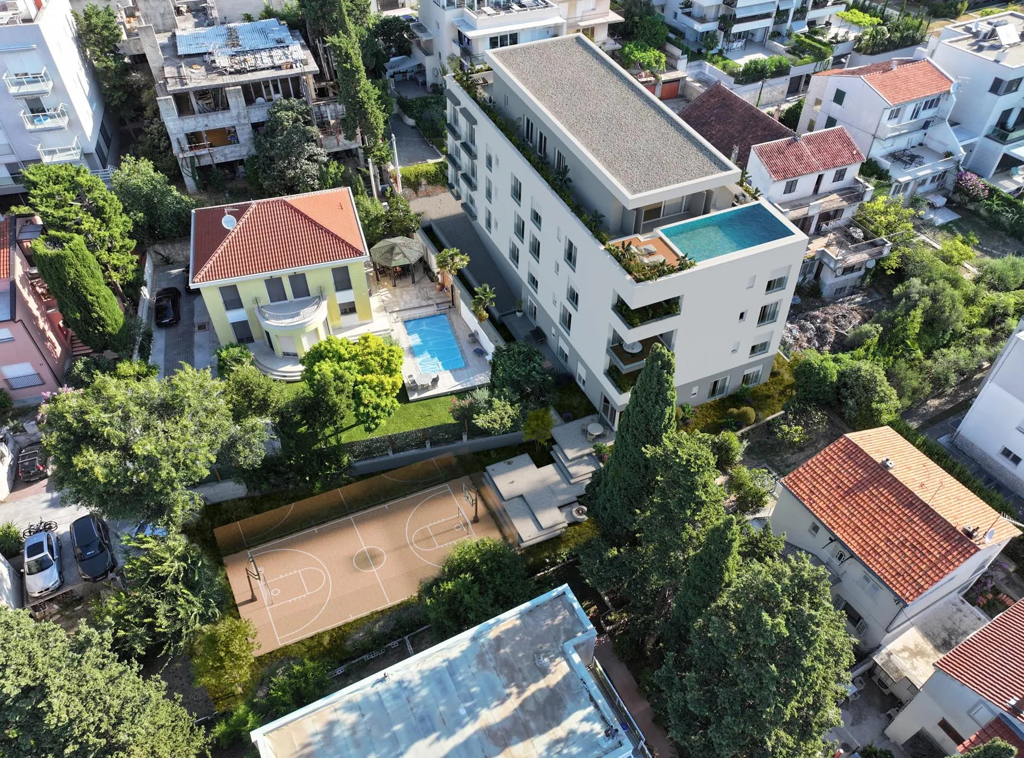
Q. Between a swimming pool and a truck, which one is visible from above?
swimming pool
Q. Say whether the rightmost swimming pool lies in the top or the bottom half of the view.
top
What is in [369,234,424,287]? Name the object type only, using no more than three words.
gazebo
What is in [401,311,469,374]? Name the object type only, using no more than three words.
swimming pool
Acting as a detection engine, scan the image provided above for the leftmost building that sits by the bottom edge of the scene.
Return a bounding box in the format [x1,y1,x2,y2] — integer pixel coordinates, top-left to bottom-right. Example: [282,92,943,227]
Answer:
[250,584,629,758]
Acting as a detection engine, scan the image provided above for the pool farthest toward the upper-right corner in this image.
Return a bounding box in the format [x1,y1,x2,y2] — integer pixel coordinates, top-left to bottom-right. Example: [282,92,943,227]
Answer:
[669,209,793,261]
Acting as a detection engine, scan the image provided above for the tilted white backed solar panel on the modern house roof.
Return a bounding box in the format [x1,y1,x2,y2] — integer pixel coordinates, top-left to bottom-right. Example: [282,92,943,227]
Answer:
[977,34,1018,60]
